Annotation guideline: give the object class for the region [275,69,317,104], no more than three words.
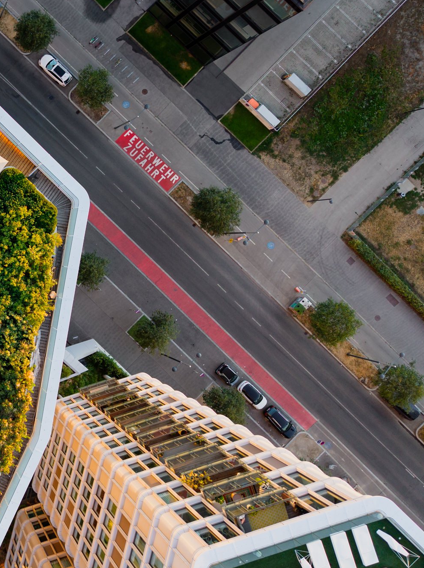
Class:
trailer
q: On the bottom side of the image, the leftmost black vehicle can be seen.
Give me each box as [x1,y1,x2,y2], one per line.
[210,359,241,388]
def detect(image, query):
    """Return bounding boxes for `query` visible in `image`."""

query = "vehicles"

[260,401,300,442]
[246,94,289,130]
[232,374,269,414]
[210,359,241,388]
[383,394,424,430]
[35,50,76,91]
